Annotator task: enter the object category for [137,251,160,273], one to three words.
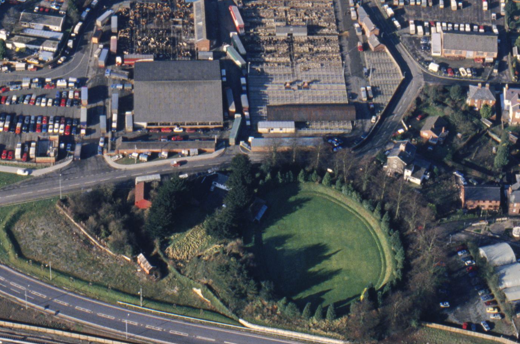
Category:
shed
